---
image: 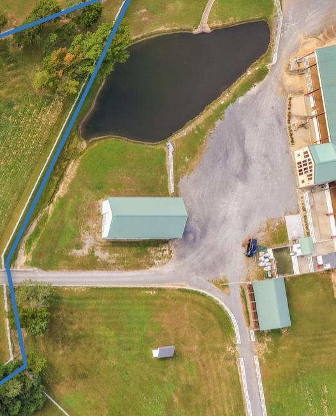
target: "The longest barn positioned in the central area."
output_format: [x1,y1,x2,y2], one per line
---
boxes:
[102,197,187,239]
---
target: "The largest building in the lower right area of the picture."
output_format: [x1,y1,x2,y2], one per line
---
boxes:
[246,277,291,331]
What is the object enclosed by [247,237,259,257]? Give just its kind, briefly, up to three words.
vehicle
